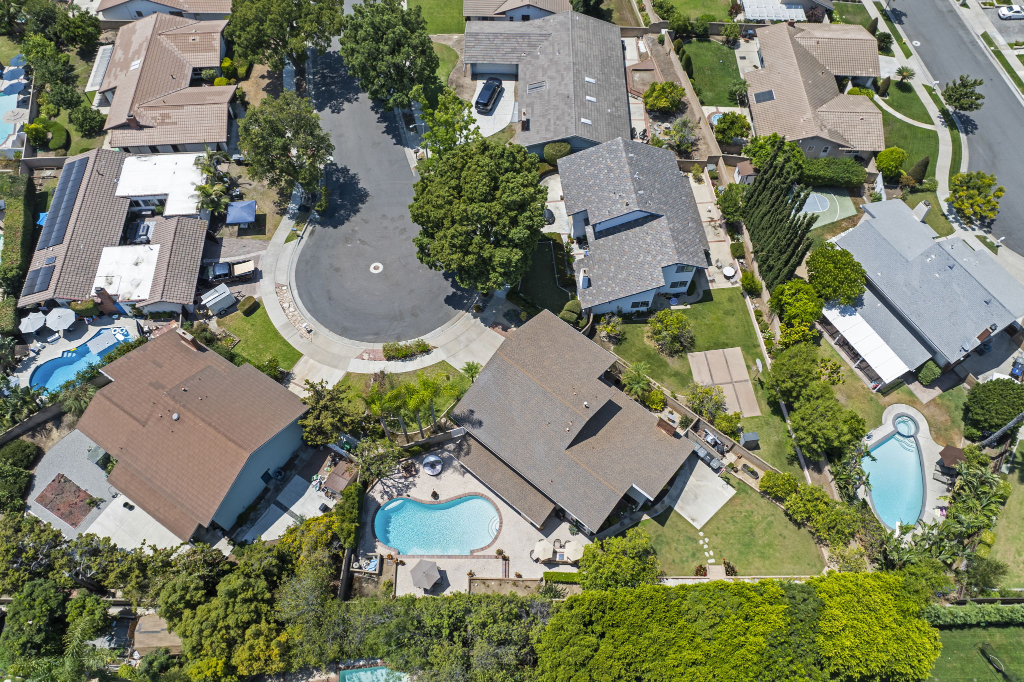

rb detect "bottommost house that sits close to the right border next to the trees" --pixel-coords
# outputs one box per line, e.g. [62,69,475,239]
[838,182,1024,372]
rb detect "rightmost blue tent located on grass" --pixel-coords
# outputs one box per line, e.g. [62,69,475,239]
[226,201,263,238]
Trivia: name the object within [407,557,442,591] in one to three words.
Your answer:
umbrella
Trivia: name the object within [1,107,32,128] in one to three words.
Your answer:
umbrella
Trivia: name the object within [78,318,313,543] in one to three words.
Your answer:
house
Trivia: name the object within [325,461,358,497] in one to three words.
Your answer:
shed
